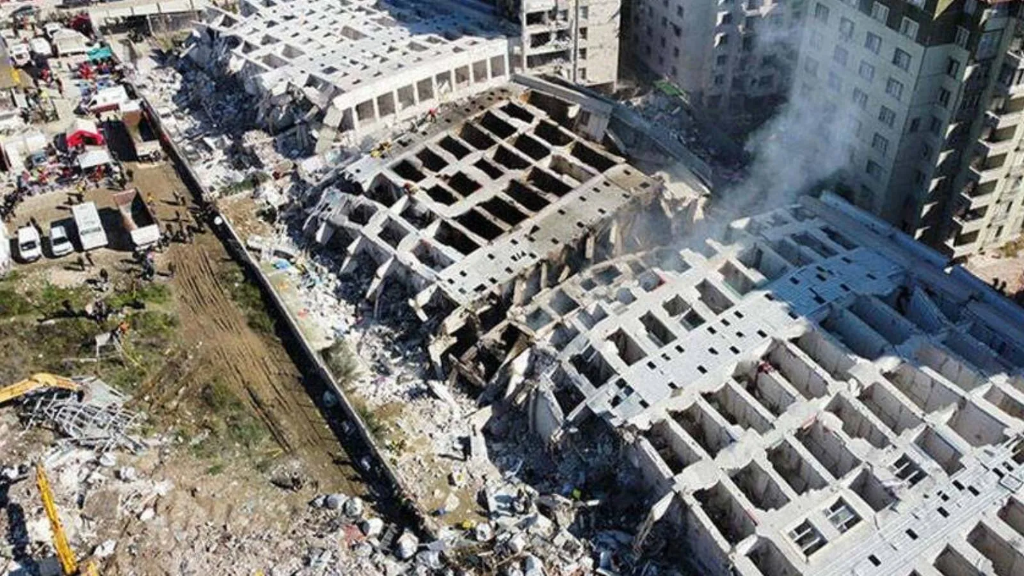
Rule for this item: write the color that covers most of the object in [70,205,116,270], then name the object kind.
white vehicle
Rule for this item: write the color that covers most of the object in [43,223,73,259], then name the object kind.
white car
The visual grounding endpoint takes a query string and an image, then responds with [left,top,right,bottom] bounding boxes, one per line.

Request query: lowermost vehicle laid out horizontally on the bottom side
[0,368,92,400]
